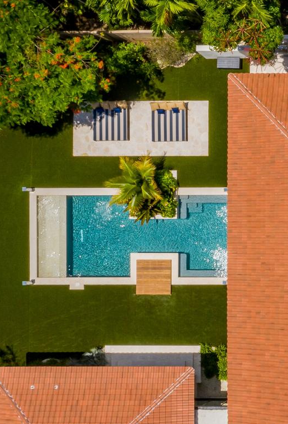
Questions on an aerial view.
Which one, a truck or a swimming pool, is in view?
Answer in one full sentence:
Looking from above, you can make out a swimming pool.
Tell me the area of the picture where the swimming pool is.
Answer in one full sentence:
The swimming pool is located in the center region of the scene.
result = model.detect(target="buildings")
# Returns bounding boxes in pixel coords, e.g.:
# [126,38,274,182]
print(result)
[225,70,288,424]
[0,365,198,424]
